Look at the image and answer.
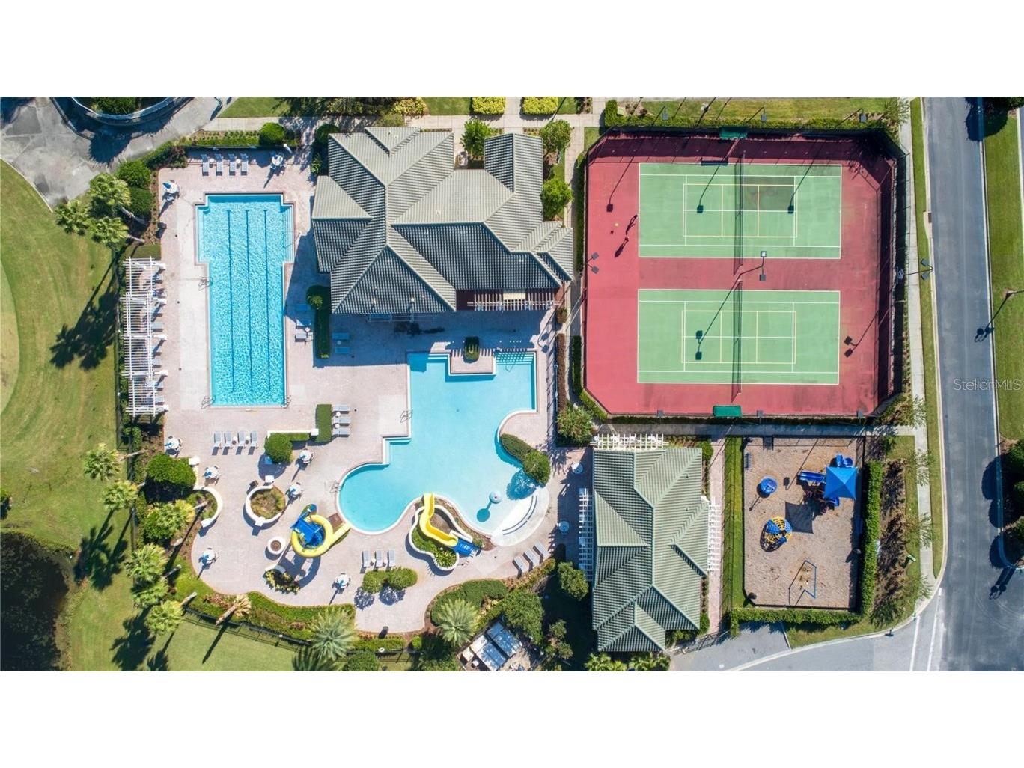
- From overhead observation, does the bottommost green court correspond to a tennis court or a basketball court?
tennis court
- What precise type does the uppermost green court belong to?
tennis court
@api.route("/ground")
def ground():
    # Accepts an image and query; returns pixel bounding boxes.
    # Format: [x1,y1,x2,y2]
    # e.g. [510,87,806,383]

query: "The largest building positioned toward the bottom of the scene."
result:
[593,446,710,652]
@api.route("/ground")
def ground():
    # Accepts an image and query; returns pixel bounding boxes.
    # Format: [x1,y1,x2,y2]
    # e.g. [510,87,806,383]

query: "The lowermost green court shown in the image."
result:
[637,289,840,385]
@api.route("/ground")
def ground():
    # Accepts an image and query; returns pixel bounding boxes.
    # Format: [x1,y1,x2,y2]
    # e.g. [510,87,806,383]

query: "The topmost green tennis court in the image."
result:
[639,163,842,259]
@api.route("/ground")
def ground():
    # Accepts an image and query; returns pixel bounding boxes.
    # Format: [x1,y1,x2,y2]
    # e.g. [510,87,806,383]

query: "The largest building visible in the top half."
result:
[312,124,573,313]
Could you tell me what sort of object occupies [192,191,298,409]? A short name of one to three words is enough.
swimming pool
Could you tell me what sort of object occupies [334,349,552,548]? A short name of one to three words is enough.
swimming pool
